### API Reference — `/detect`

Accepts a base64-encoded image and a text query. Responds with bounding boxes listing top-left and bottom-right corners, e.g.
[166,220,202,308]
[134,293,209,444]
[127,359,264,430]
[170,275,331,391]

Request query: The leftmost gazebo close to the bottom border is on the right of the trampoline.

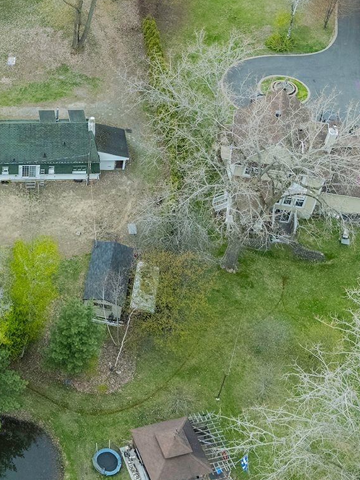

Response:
[130,417,213,480]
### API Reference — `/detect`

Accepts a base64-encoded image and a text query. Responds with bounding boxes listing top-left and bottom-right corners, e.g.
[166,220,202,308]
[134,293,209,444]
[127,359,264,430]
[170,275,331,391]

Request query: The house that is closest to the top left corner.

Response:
[0,108,139,195]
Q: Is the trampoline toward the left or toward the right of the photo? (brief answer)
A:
left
